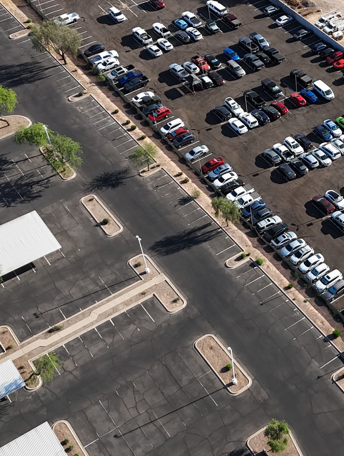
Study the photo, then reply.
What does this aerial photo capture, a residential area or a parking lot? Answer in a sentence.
What you see here is a parking lot.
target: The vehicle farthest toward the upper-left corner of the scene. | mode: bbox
[54,11,79,25]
